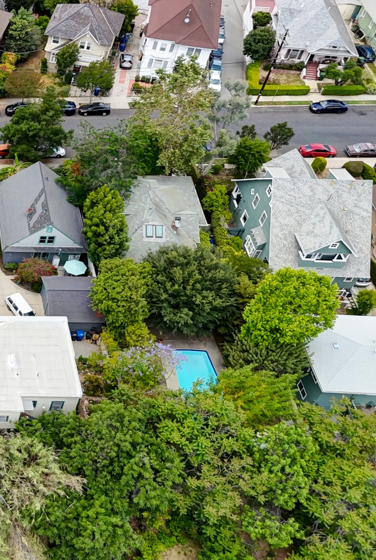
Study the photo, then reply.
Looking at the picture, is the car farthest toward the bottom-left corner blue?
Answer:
No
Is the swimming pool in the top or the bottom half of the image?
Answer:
bottom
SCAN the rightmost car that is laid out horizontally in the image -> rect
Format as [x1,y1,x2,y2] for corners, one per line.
[343,144,376,158]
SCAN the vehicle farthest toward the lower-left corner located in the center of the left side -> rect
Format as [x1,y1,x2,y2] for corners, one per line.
[4,290,36,313]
